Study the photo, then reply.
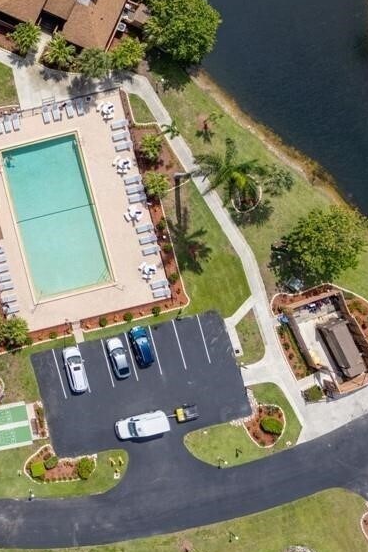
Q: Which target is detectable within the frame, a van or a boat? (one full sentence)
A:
The one in the frame is a van.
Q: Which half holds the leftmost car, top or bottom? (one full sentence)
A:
You can find the leftmost car in the bottom half.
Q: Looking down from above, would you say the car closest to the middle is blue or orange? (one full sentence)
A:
The color of the car closest to the middle is blue.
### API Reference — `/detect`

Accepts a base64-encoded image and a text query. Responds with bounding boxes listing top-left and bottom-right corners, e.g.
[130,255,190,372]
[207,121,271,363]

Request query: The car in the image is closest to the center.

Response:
[129,326,154,366]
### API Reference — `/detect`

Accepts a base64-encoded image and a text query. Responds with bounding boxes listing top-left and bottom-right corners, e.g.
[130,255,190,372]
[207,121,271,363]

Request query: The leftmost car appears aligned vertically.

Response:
[62,347,87,392]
